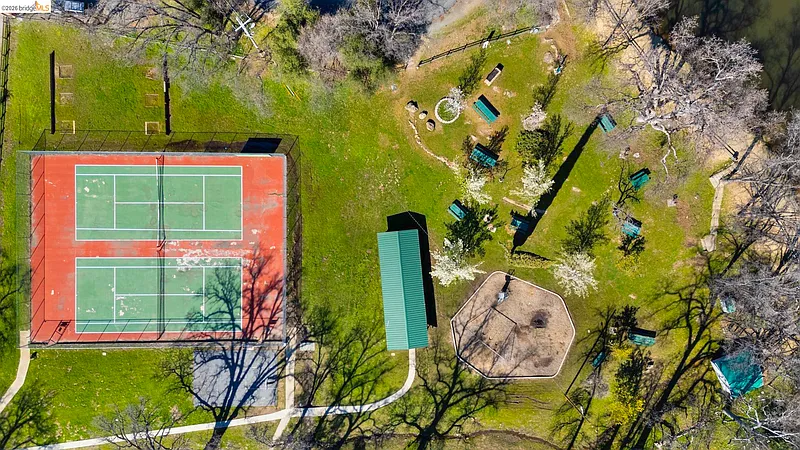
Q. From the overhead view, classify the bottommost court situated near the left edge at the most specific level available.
tennis court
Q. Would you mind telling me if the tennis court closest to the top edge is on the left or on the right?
left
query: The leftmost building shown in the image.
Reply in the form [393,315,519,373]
[377,230,427,352]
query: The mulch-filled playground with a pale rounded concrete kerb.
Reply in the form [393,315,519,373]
[452,272,574,379]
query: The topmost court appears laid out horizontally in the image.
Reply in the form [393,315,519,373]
[31,154,282,249]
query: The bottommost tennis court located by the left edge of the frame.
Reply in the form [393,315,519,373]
[31,249,282,344]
